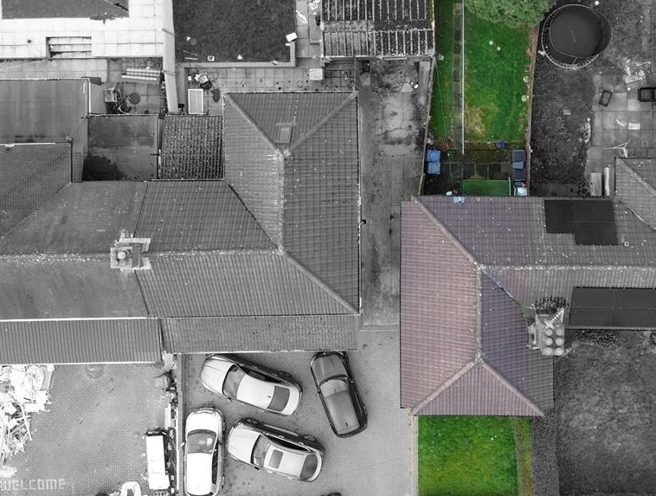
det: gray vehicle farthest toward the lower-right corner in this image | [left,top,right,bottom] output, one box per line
[314,351,371,439]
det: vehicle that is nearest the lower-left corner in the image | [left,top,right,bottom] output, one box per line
[179,405,229,496]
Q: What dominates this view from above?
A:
buildings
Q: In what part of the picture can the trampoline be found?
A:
top right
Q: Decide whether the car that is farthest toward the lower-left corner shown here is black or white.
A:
white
